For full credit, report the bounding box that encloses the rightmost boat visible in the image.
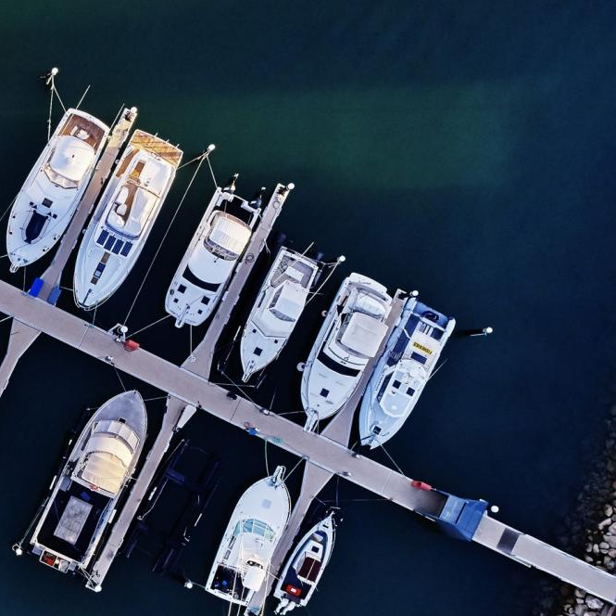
[359,297,457,450]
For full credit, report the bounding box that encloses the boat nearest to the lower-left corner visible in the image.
[29,389,147,573]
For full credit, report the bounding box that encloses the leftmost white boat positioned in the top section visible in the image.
[6,85,124,272]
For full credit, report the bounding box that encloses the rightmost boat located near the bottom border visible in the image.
[273,510,337,616]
